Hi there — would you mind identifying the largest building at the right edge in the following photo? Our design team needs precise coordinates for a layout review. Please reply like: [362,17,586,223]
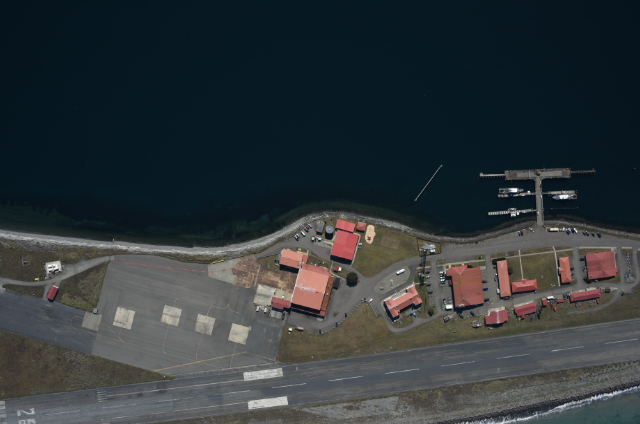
[584,251,618,280]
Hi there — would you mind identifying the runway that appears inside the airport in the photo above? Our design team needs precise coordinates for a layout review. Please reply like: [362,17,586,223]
[0,318,640,424]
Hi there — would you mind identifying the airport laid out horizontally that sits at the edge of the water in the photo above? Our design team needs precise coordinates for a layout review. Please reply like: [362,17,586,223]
[0,255,640,424]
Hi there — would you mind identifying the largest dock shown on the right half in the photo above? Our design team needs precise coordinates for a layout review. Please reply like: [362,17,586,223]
[506,168,571,226]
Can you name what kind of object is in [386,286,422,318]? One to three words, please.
building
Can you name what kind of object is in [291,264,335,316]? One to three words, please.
hangar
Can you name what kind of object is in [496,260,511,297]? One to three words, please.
building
